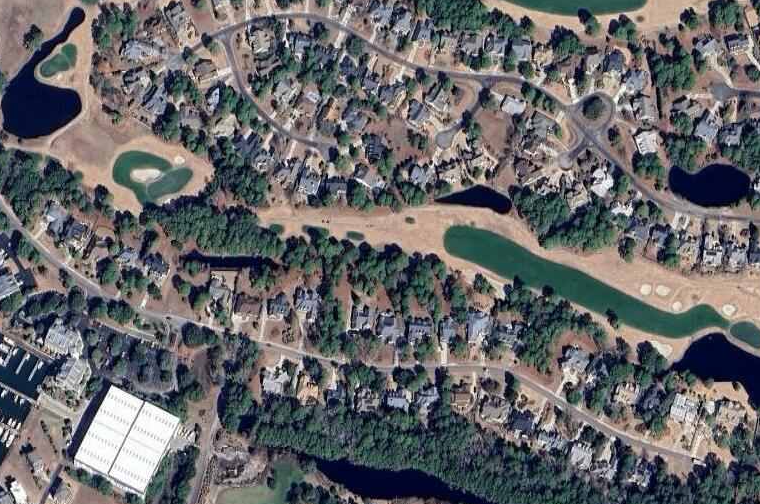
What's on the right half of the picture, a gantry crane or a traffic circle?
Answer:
traffic circle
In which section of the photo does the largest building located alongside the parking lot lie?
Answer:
bottom left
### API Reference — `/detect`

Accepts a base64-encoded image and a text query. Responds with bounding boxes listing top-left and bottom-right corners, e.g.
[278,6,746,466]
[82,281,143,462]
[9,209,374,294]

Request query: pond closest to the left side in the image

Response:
[0,7,85,139]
